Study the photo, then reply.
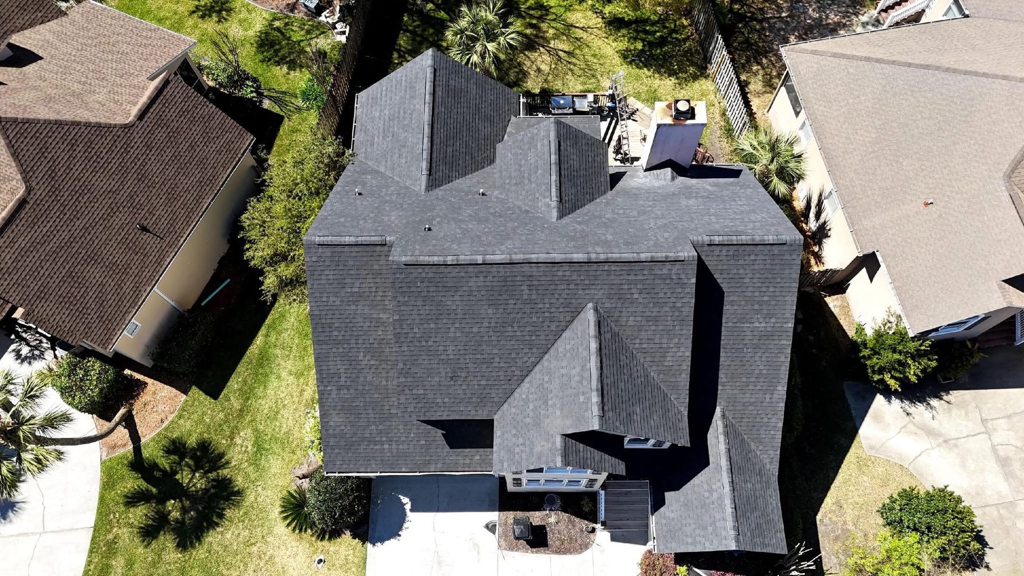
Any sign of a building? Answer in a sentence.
Yes, you can see a building in this photo.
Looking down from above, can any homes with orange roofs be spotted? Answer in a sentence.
No, the frame has no home with an orange roof in it.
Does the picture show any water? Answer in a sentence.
No, the picture contains no water.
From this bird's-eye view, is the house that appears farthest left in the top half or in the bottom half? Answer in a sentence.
The house that appears farthest left is in the top half of the image.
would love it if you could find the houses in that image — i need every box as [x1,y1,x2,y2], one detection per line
[304,48,803,554]
[766,0,1024,357]
[0,0,264,367]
